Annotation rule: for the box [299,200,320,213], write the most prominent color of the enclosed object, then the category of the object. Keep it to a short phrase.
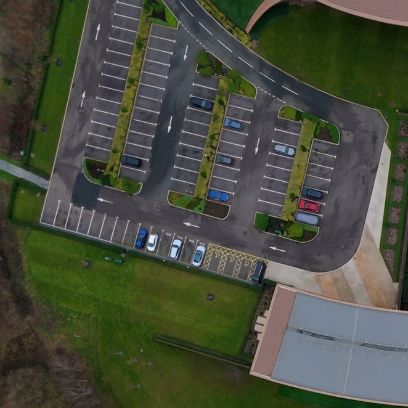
red vehicle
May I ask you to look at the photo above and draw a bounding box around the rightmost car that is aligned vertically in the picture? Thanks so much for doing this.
[253,260,266,283]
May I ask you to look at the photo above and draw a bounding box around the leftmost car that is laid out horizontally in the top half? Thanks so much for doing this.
[121,155,143,168]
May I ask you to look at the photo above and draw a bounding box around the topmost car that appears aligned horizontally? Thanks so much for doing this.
[191,97,213,110]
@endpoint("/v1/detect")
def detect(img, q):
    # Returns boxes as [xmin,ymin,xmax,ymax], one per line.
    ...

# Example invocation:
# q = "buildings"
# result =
[250,284,408,406]
[314,0,408,27]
